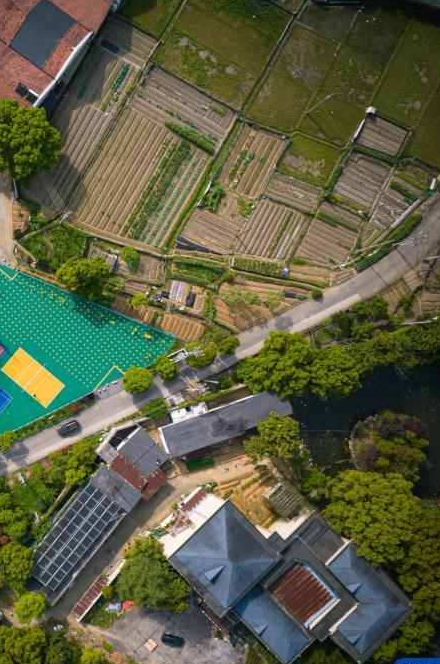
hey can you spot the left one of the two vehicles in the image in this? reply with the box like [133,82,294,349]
[56,419,80,435]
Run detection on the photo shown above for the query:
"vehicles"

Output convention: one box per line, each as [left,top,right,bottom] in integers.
[56,419,80,435]
[161,633,185,646]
